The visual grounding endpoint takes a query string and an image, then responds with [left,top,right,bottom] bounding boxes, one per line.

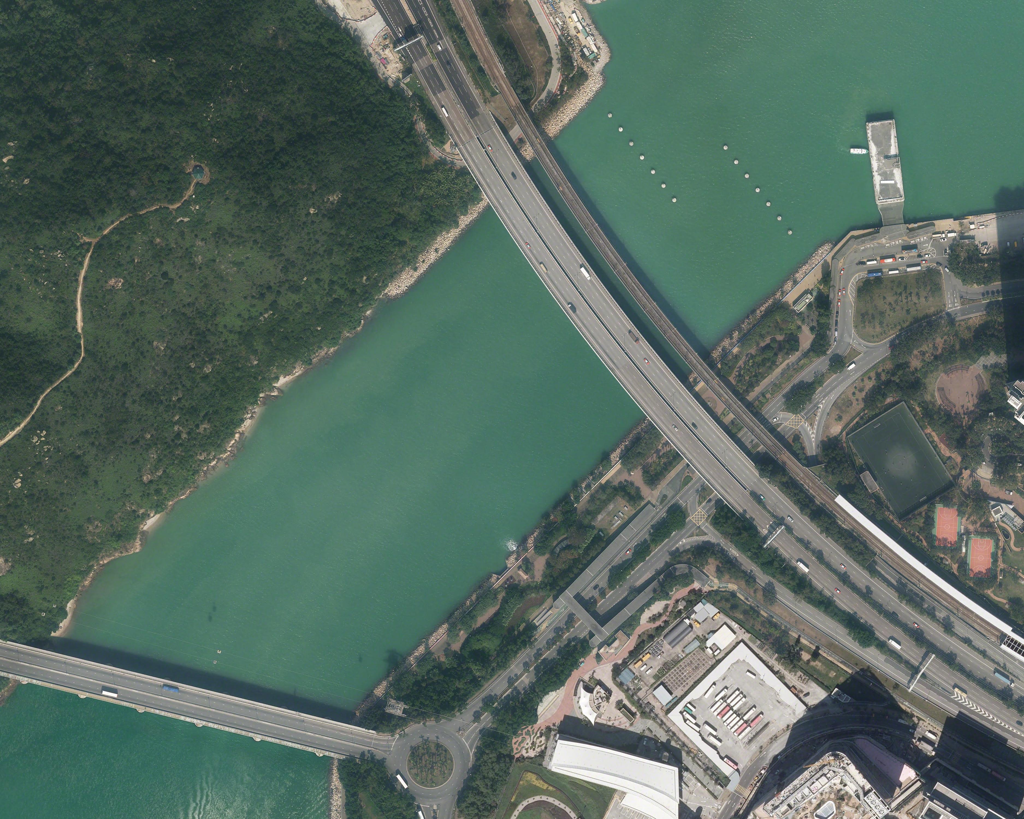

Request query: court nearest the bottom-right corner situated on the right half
[967,535,997,580]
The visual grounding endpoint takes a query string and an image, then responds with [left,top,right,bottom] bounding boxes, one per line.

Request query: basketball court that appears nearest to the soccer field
[932,504,962,547]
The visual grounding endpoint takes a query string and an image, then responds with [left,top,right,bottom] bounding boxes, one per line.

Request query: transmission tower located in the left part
[383,695,409,718]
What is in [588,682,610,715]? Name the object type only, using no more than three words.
building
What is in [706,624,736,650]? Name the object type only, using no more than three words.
building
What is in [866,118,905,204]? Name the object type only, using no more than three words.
pier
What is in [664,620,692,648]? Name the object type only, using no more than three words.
greenhouse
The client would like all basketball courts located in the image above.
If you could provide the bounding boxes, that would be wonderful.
[967,535,997,580]
[932,504,962,547]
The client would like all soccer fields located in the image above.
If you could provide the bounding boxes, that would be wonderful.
[846,401,955,520]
